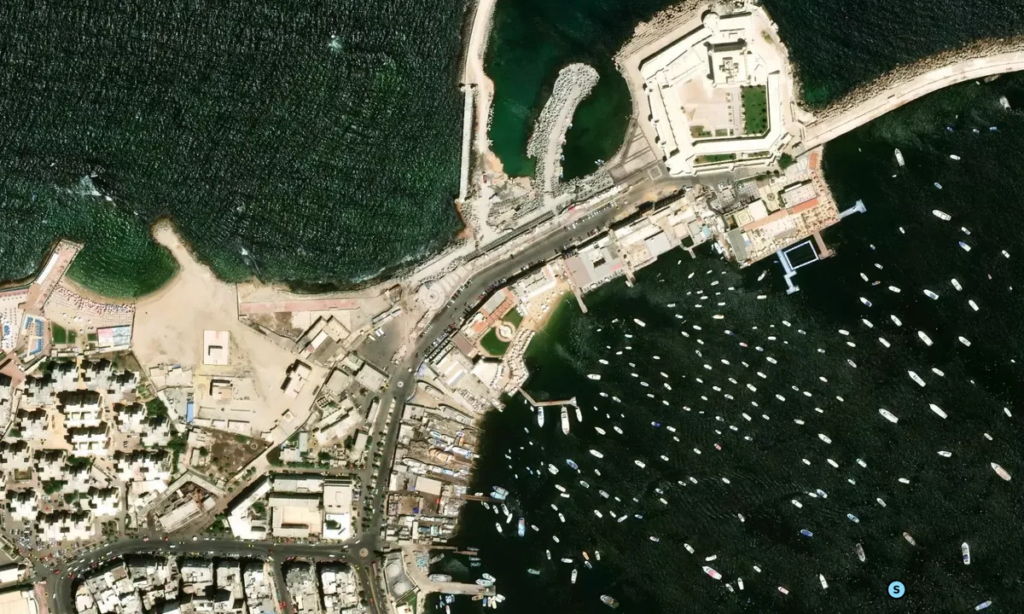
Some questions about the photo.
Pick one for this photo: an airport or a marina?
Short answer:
marina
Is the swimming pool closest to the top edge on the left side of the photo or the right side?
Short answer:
right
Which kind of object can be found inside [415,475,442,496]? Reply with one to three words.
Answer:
shed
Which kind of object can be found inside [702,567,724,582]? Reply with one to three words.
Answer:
boat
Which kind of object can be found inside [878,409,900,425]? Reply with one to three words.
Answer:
boat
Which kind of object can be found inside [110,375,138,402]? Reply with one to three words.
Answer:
building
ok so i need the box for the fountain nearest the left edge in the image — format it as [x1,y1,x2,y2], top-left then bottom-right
[495,321,516,342]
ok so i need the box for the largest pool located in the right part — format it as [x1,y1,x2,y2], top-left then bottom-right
[784,240,819,270]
